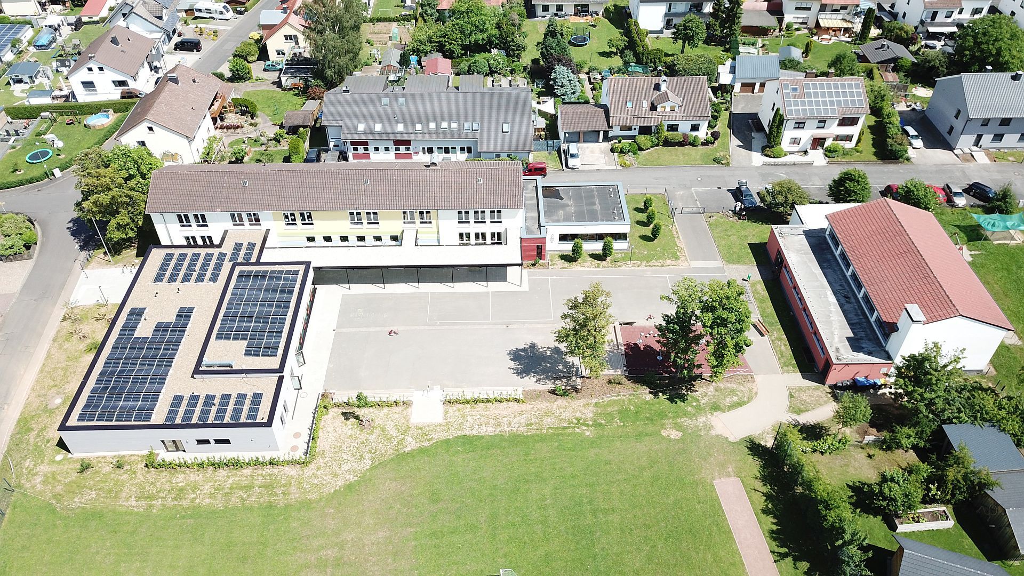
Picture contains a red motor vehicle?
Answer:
Yes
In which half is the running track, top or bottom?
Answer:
bottom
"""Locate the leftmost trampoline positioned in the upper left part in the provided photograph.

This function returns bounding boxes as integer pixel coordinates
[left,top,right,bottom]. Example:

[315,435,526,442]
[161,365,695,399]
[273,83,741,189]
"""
[24,149,52,164]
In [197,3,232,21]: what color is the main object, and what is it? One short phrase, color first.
white camper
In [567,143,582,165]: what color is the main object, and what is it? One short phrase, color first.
white car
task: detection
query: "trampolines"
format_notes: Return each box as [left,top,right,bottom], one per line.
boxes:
[571,27,591,47]
[24,149,52,164]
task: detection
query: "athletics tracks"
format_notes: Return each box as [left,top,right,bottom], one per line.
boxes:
[714,478,780,576]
